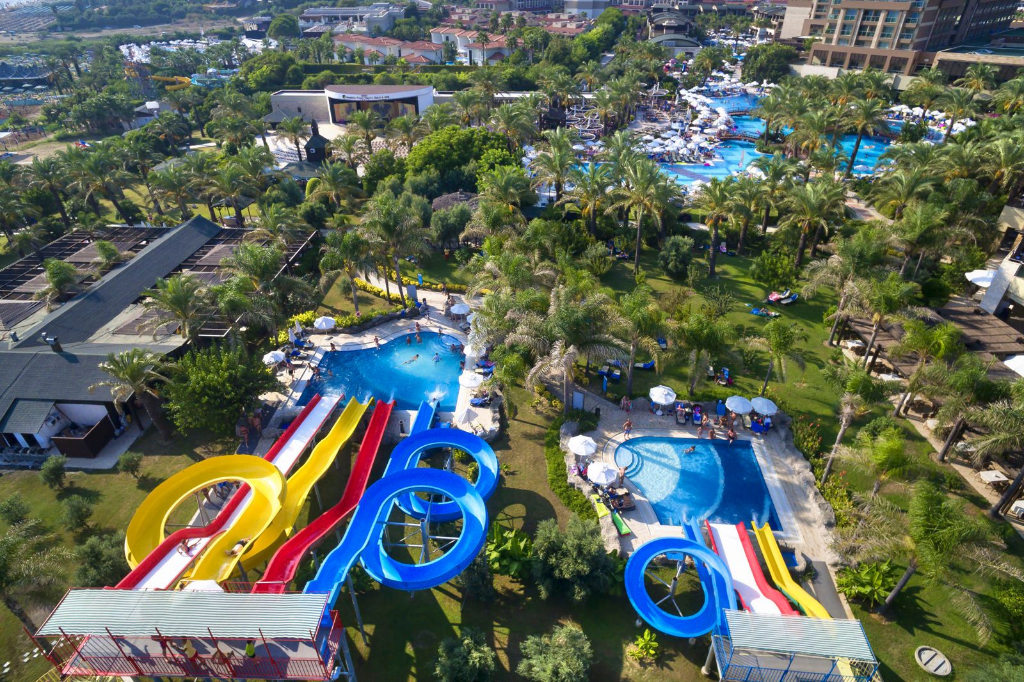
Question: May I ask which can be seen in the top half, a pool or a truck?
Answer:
pool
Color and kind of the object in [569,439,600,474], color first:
white umbrella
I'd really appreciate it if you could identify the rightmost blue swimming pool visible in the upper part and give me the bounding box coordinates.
[566,93,943,187]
